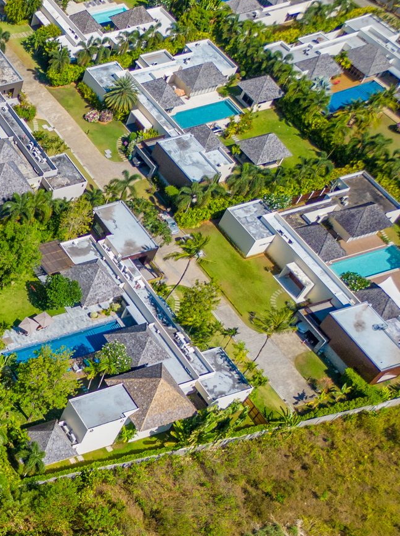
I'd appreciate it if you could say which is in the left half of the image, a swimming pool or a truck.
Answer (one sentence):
The one visible in the left half of the image is a swimming pool.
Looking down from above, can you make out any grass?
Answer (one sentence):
Yes, grass can be seen from above here.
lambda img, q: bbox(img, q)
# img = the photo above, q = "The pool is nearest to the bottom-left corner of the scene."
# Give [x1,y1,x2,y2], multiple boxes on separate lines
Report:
[0,317,125,366]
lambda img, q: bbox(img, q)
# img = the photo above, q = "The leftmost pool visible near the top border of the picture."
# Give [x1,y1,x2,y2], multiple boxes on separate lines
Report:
[91,2,131,22]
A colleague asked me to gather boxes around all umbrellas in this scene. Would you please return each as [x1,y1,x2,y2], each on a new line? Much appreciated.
[17,318,40,339]
[31,311,54,333]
